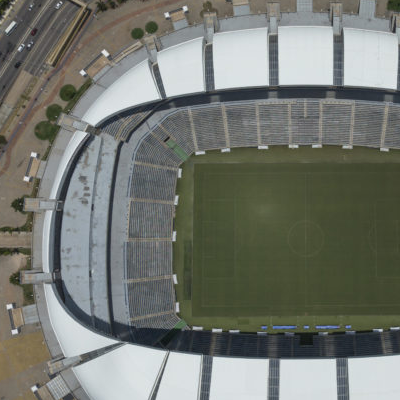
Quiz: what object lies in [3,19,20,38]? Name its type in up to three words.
vehicle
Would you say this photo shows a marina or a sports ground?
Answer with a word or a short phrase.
sports ground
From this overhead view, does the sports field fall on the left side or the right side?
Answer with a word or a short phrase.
right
